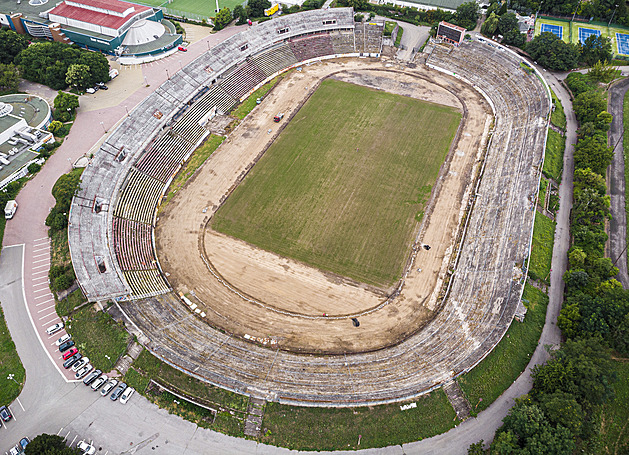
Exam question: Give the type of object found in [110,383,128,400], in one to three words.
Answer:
car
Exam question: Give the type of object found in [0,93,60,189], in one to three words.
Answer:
building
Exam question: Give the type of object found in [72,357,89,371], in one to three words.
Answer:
vehicle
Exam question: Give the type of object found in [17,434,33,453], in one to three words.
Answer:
car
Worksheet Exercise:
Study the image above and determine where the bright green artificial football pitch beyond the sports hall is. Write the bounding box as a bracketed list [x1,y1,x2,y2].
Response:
[164,0,256,20]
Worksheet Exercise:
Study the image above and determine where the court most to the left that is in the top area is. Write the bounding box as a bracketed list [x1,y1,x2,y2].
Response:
[532,18,569,47]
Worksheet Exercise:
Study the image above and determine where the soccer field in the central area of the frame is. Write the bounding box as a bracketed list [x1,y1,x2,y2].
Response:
[207,80,464,289]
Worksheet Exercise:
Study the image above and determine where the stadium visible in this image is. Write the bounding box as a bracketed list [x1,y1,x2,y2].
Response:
[68,7,552,407]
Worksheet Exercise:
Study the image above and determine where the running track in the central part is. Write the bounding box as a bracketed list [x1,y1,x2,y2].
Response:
[153,42,494,352]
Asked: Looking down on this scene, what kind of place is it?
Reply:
sports ground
